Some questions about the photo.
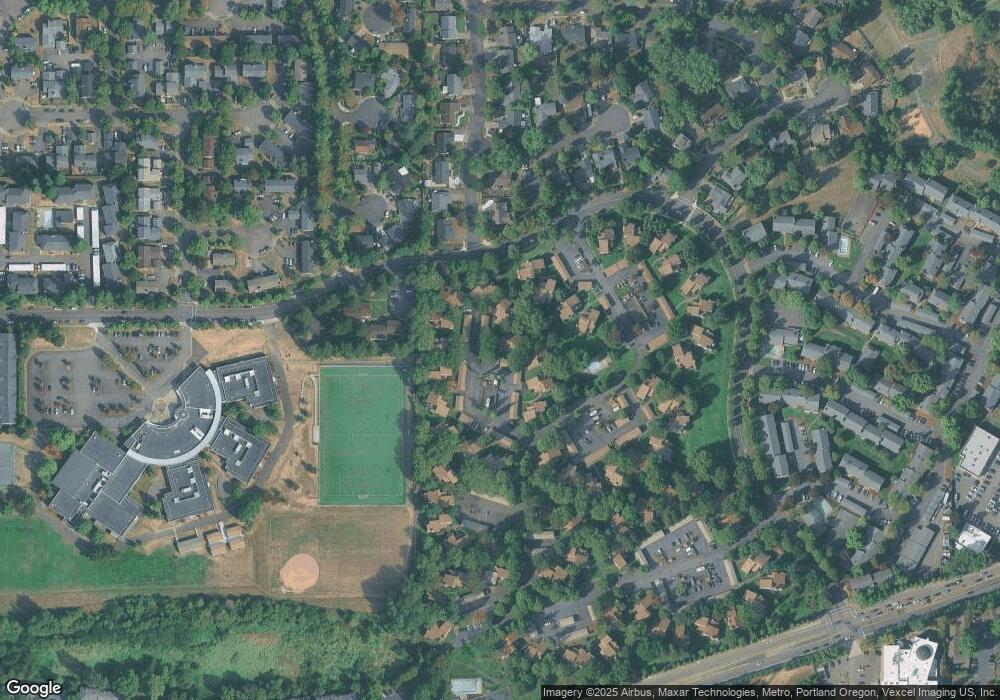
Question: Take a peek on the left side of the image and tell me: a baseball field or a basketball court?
baseball field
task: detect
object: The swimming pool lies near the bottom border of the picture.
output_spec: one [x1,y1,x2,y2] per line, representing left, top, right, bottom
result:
[450,676,481,694]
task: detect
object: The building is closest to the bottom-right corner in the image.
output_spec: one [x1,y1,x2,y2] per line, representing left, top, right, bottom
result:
[882,638,940,700]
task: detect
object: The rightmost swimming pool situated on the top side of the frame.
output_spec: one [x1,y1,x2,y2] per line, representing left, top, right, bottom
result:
[836,235,850,255]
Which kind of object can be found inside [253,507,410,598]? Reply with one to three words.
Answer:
baseball field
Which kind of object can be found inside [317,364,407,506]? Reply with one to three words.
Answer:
sports field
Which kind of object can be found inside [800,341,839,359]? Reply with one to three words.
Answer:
building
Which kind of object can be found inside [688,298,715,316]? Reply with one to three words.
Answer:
house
